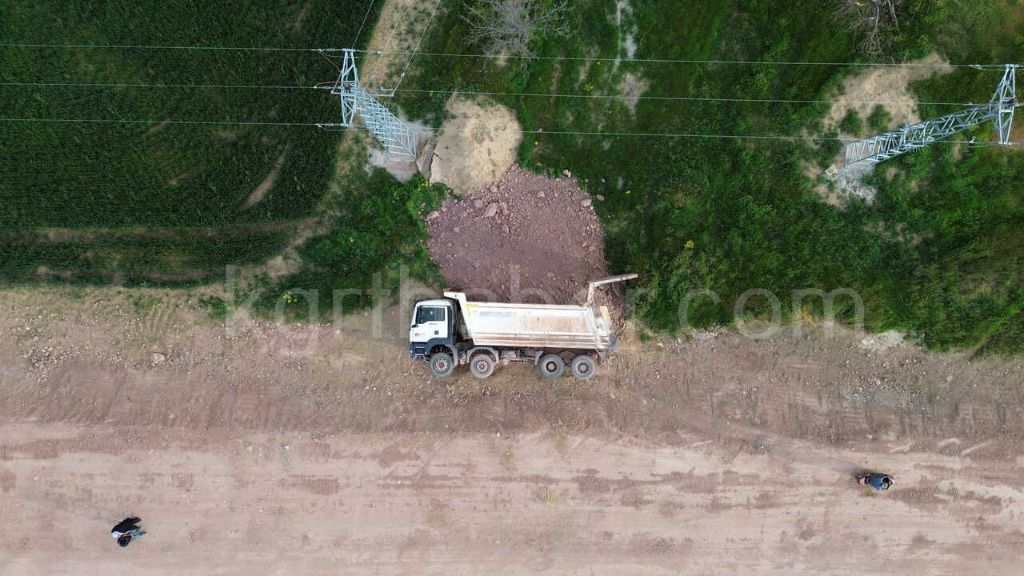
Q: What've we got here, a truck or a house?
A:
truck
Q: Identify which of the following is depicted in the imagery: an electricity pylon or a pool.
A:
electricity pylon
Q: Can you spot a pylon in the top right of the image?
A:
Yes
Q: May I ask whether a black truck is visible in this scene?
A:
No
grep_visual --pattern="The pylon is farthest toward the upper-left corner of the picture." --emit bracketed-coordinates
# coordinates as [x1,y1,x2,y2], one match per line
[314,45,421,159]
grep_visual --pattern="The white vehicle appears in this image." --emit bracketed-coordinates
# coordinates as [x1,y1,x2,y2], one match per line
[410,274,639,380]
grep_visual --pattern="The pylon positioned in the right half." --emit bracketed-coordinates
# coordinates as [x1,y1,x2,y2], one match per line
[836,61,1024,171]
